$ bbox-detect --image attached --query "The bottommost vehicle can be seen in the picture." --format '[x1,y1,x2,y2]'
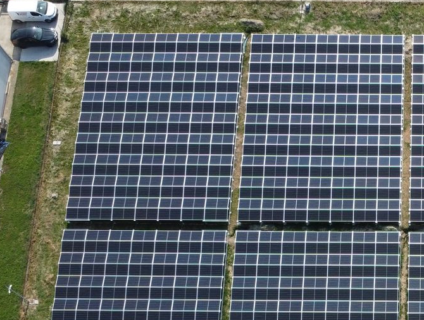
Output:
[10,23,58,47]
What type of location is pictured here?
solar farm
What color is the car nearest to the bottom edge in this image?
black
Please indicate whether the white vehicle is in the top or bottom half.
top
